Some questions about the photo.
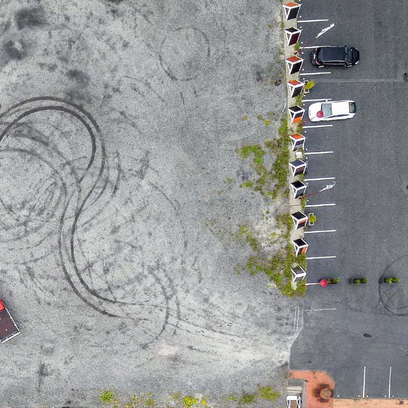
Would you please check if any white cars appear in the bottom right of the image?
No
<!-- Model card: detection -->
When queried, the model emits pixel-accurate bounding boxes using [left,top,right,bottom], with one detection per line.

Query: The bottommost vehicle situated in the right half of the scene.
[309,98,360,123]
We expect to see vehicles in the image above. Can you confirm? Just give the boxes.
[0,301,22,346]
[309,98,360,123]
[313,42,362,67]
